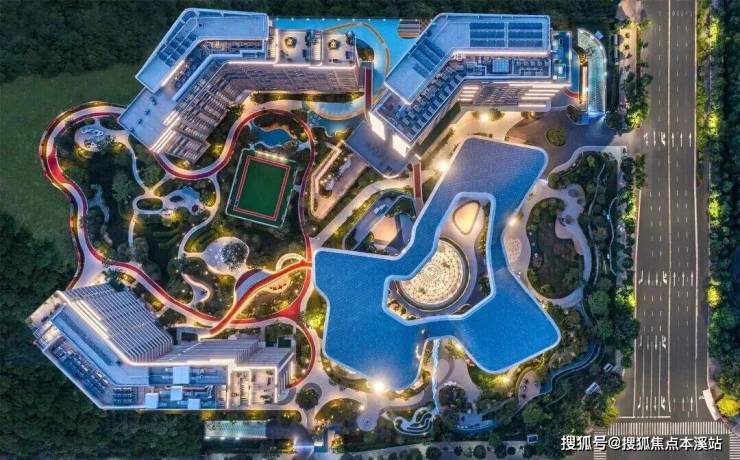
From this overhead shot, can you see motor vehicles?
No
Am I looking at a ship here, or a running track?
running track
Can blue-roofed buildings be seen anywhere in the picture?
Yes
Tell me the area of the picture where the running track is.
left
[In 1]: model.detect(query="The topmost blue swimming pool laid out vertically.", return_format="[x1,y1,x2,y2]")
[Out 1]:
[569,47,581,95]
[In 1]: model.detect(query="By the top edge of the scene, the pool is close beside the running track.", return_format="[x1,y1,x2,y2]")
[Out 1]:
[270,16,436,103]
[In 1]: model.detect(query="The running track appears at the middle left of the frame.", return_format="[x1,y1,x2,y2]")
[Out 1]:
[42,104,317,386]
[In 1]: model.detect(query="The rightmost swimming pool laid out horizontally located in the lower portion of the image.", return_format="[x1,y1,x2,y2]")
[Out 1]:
[454,418,502,433]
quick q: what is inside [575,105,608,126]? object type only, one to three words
swimming pool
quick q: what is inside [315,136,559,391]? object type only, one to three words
building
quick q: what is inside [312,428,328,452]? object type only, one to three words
building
